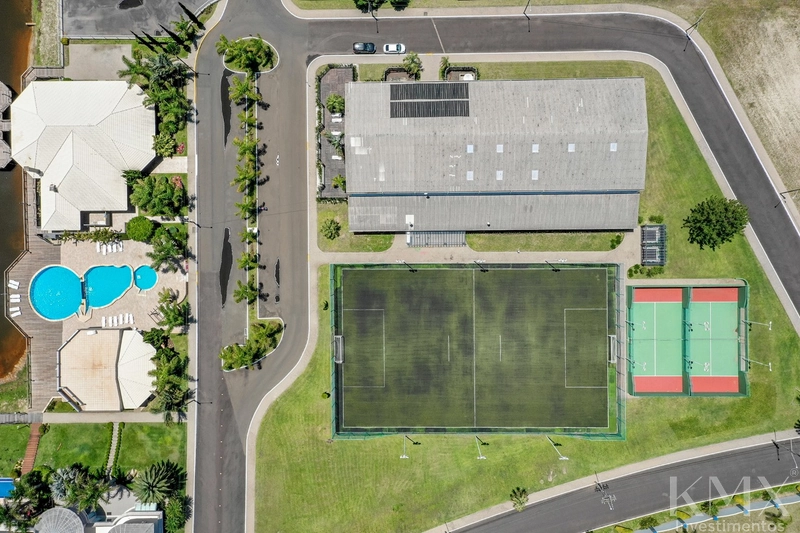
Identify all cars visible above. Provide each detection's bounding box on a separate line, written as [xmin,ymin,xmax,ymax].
[352,40,375,52]
[383,40,405,52]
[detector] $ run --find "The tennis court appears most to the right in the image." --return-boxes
[683,286,748,395]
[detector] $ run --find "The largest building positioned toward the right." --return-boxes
[345,77,648,232]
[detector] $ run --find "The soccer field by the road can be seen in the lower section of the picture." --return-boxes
[334,263,619,435]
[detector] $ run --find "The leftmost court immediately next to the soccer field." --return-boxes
[627,286,691,395]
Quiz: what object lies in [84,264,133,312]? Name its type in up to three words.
swimming pool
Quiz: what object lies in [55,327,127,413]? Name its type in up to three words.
building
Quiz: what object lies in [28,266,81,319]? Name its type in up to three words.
swimming pool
